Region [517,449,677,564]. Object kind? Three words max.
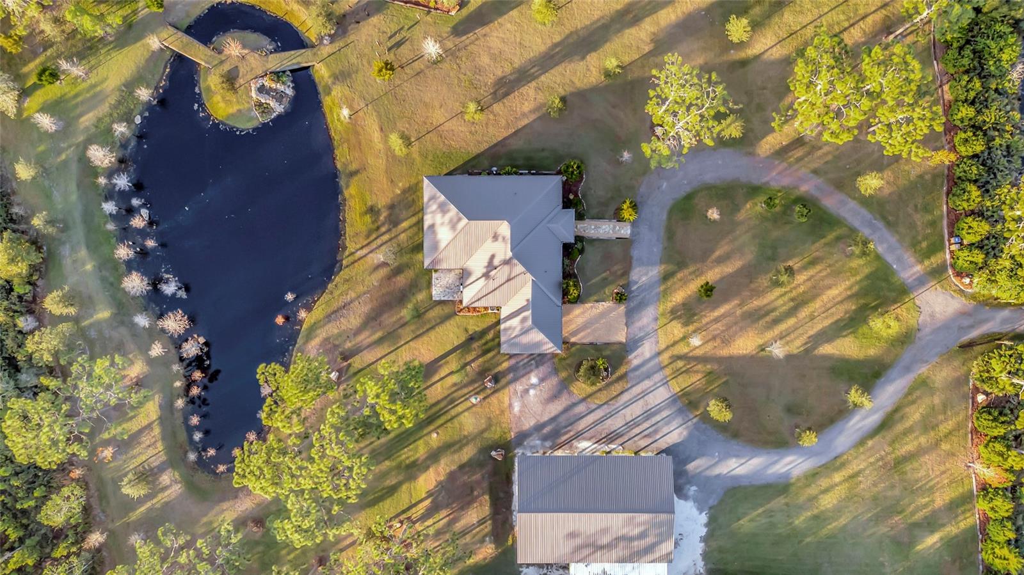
barn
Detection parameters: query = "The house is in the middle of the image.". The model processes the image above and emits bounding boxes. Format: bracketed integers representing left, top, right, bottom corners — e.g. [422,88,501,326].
[423,174,575,353]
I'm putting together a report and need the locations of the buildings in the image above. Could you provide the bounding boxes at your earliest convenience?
[517,449,677,564]
[423,174,575,353]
